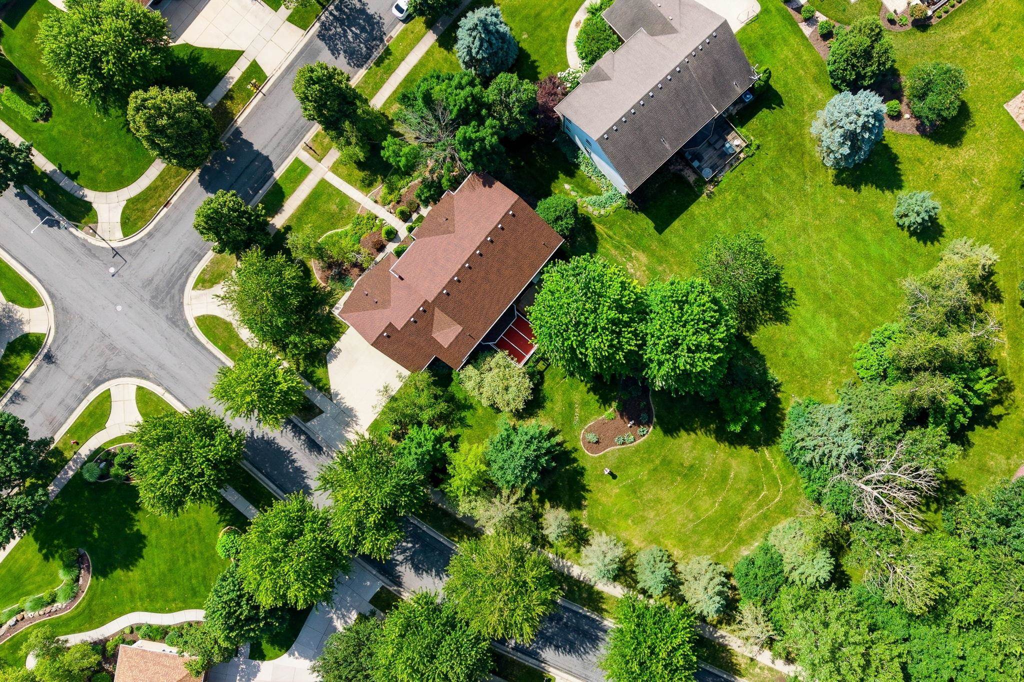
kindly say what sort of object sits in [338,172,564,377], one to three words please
house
